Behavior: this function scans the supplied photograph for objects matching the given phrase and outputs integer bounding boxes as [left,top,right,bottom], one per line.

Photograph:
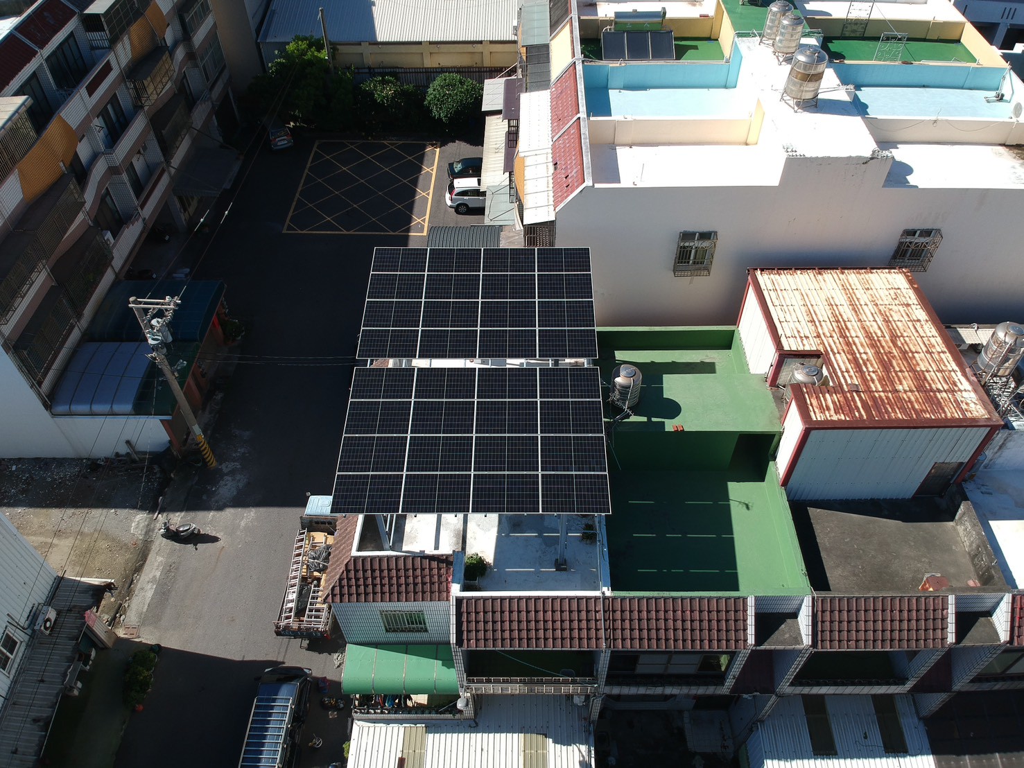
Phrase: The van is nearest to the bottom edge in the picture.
[238,669,318,768]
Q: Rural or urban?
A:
urban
